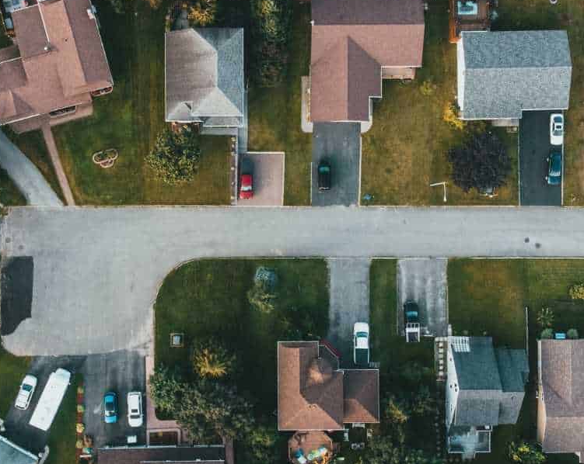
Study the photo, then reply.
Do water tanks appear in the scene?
No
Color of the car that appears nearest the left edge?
white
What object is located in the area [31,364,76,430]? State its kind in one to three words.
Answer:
camper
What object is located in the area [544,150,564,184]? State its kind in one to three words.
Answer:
car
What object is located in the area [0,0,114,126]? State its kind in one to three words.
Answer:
house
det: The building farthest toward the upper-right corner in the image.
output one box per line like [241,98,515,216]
[449,0,573,122]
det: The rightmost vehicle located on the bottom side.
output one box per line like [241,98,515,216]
[403,300,422,345]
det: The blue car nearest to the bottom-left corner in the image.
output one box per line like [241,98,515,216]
[100,391,118,424]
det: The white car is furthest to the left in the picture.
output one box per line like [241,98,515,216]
[13,373,38,412]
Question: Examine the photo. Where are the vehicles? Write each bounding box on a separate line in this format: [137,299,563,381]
[31,364,76,430]
[239,173,255,200]
[100,391,118,424]
[546,113,566,147]
[544,150,564,184]
[353,321,371,365]
[403,300,422,345]
[316,160,334,194]
[13,373,38,412]
[124,391,142,429]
